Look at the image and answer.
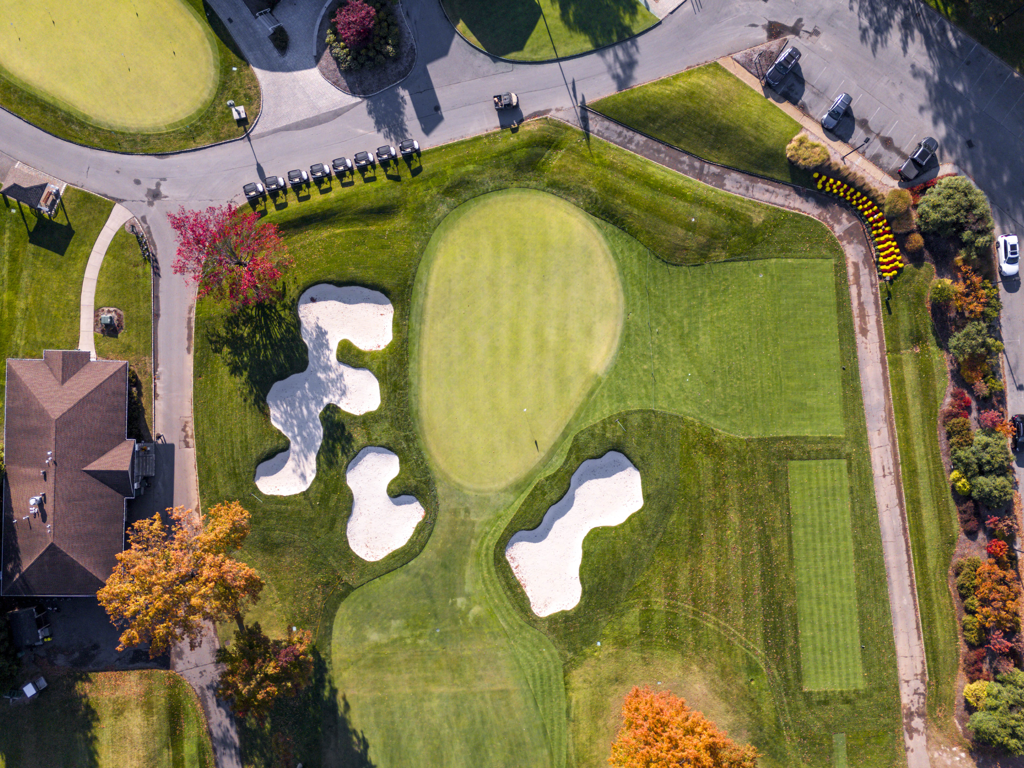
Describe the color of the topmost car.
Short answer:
black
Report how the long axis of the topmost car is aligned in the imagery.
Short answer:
at an angle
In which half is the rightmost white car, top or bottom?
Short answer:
top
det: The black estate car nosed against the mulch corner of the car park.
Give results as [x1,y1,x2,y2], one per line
[764,43,804,86]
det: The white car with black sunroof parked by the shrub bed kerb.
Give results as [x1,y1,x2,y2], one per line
[994,235,1022,278]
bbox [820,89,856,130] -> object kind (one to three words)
car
